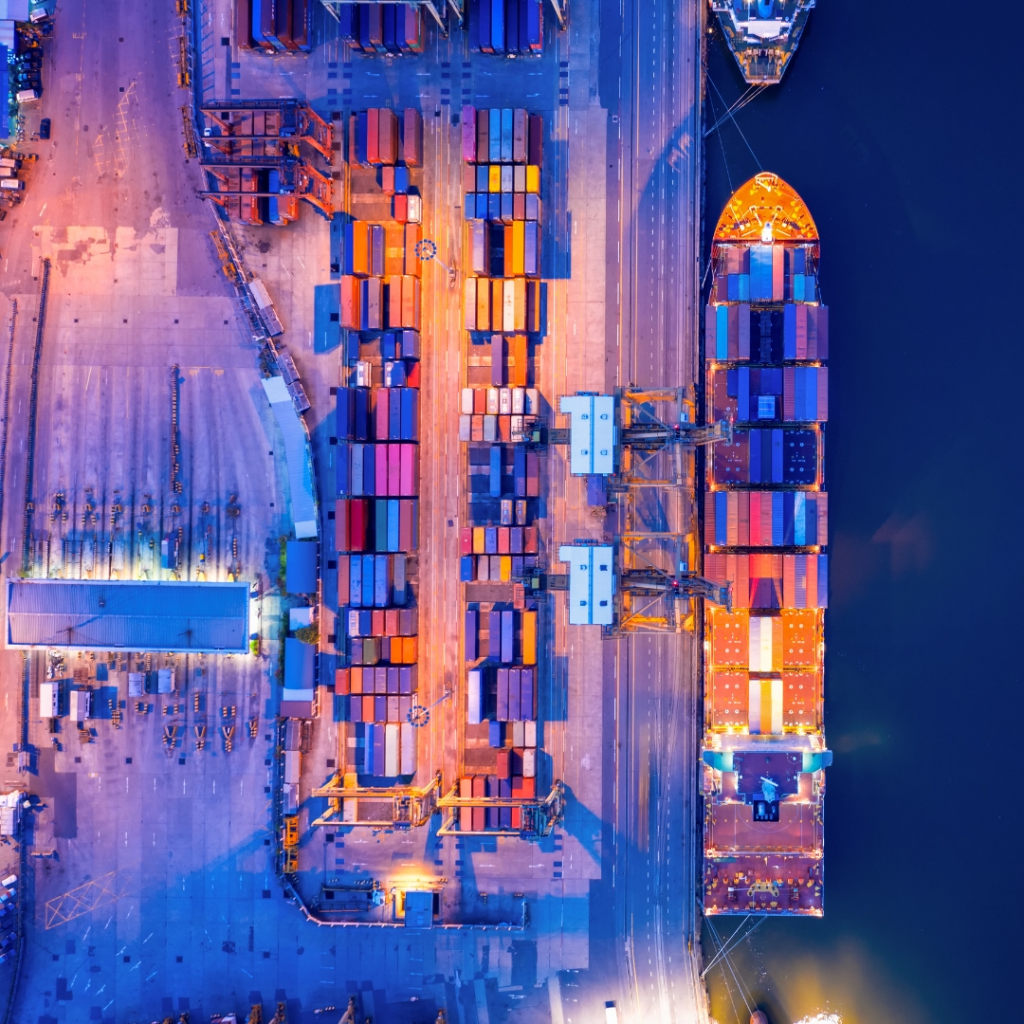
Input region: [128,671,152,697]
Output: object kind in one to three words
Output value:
building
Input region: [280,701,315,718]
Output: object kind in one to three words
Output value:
building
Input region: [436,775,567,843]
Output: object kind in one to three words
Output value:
container crane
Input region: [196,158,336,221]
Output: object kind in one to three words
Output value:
container crane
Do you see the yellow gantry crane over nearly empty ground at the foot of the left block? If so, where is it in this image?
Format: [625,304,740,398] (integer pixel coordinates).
[309,765,445,834]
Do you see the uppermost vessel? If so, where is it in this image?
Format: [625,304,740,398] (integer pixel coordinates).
[712,0,815,90]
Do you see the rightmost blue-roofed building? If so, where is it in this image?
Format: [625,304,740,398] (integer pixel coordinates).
[405,883,437,929]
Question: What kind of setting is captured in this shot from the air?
port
